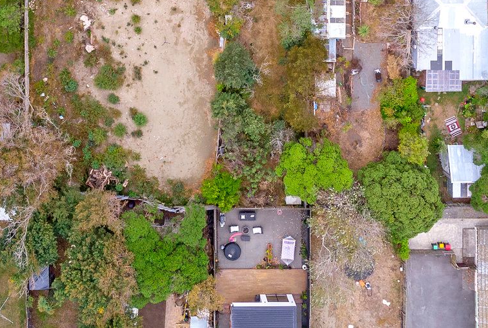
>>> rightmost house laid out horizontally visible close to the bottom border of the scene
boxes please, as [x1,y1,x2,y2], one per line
[228,298,298,328]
